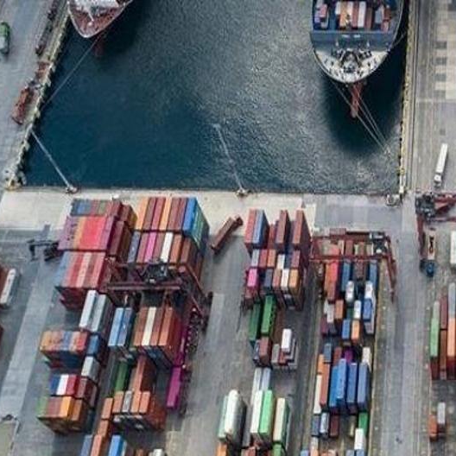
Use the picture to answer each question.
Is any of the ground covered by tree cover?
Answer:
No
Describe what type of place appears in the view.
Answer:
port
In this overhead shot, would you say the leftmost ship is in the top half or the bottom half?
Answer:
top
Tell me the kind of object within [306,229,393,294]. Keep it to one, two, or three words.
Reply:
container crane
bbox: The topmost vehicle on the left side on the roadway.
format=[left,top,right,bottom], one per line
[0,29,14,61]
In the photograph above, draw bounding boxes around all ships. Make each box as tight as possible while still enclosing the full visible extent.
[75,0,145,64]
[309,0,410,125]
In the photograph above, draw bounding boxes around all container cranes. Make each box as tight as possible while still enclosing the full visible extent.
[416,196,456,258]
[306,229,393,294]
[100,258,211,323]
